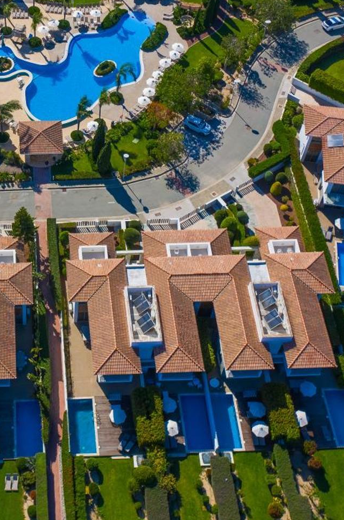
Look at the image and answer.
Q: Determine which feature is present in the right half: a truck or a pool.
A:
pool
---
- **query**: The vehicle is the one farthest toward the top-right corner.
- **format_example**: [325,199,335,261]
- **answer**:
[322,16,344,30]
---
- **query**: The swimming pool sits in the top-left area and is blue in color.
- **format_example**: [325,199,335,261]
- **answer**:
[0,8,157,123]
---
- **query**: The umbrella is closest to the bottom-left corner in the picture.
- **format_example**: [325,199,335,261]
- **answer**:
[107,407,126,427]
